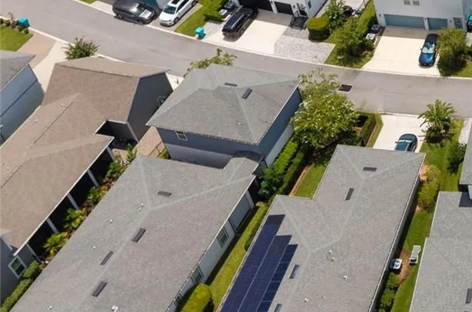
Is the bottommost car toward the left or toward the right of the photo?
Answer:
right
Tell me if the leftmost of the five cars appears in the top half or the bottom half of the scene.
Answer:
top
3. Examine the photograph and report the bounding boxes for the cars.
[393,128,419,152]
[158,0,198,22]
[418,33,440,66]
[219,4,260,38]
[111,0,156,21]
